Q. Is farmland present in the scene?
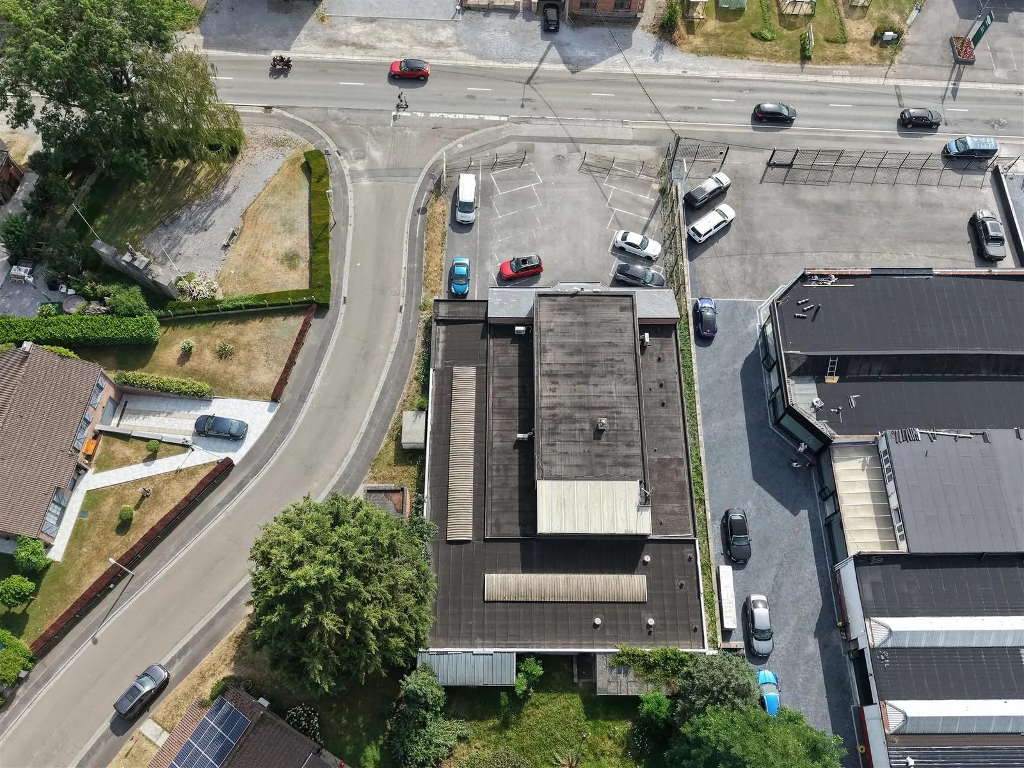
No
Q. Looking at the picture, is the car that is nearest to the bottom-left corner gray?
Yes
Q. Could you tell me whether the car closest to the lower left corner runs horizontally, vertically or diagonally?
diagonally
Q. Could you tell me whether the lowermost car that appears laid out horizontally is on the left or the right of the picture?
left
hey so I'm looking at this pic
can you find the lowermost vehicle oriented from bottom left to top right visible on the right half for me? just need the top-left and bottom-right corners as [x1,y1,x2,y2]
[687,205,737,244]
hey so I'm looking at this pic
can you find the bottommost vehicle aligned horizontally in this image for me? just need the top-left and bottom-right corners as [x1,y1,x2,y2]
[194,413,248,441]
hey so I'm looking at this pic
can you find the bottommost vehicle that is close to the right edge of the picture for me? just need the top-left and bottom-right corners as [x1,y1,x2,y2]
[973,210,1005,258]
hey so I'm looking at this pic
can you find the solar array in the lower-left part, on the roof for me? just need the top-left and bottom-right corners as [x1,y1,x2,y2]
[170,695,251,768]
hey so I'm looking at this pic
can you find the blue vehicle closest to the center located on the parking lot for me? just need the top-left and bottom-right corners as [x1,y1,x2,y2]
[449,258,470,298]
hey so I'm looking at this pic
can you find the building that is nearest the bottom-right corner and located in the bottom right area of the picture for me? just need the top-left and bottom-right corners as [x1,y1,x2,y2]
[834,555,1024,768]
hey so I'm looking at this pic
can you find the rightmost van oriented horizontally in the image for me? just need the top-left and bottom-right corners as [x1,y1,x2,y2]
[942,131,1005,160]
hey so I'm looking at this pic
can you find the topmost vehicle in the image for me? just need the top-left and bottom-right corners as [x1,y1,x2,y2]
[542,3,560,30]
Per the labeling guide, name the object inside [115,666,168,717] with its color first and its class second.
gray car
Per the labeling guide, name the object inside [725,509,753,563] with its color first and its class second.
black car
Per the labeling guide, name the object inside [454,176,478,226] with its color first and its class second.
white vehicle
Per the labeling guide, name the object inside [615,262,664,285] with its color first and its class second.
gray car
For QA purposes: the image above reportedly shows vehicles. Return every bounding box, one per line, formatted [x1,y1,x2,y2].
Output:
[899,105,942,129]
[687,205,737,244]
[973,210,1005,258]
[449,258,470,298]
[746,596,776,656]
[542,3,560,30]
[752,102,796,125]
[115,666,168,717]
[725,509,753,563]
[615,231,661,261]
[390,57,431,80]
[695,298,718,337]
[615,262,664,285]
[756,667,782,716]
[682,173,732,210]
[942,131,1005,160]
[499,254,544,280]
[194,413,248,441]
[454,176,478,226]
